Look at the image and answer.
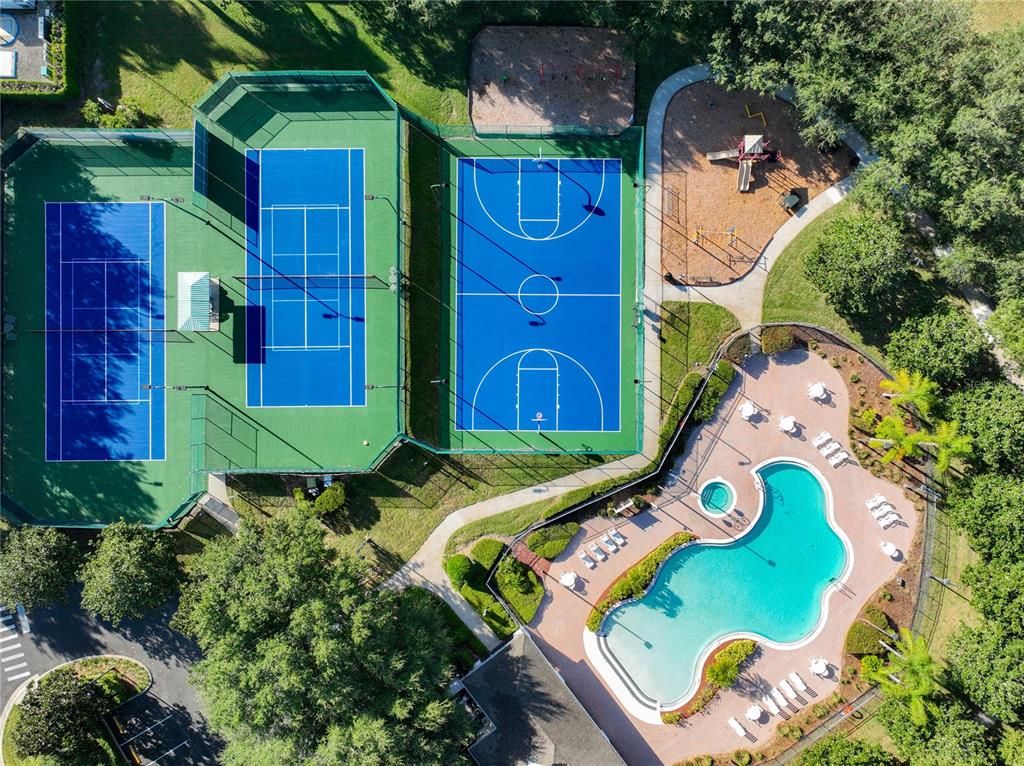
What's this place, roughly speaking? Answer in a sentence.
The picture captures a sports ground.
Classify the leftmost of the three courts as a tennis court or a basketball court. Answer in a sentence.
It looks like the leftmost of the three courts is a tennis court.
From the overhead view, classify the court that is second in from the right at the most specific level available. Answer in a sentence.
Specifically, the court that is second in from the right is a tennis court.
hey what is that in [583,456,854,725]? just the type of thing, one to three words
swimming pool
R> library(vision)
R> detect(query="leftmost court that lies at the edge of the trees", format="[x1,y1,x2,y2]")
[5,139,209,523]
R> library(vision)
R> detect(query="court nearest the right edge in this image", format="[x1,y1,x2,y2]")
[440,139,635,450]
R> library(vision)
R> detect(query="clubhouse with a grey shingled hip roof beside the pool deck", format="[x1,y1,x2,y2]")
[459,629,626,766]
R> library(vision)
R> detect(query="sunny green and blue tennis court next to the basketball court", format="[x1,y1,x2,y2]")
[209,84,405,470]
